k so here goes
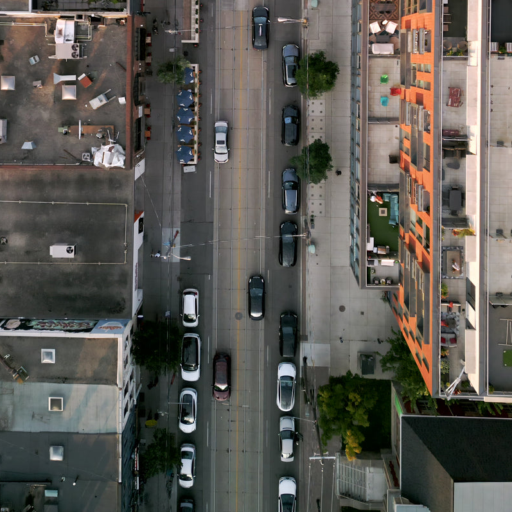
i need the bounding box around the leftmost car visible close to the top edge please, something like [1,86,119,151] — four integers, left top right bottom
[250,6,271,49]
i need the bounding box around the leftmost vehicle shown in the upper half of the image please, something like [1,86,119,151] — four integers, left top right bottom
[211,119,231,162]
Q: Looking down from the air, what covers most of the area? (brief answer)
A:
buildings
